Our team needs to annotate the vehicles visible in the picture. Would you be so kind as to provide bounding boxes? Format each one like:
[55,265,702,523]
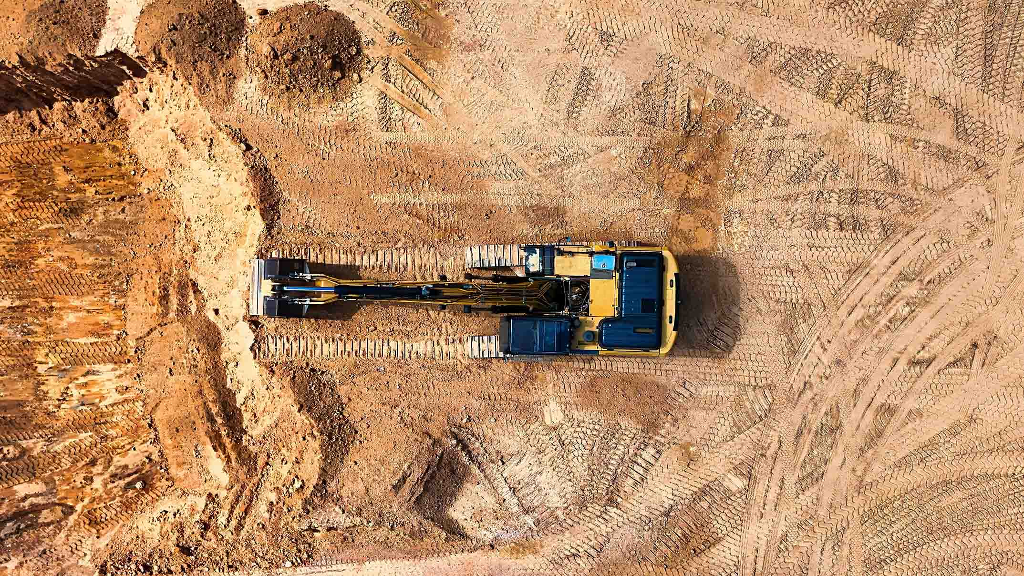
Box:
[245,236,682,363]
